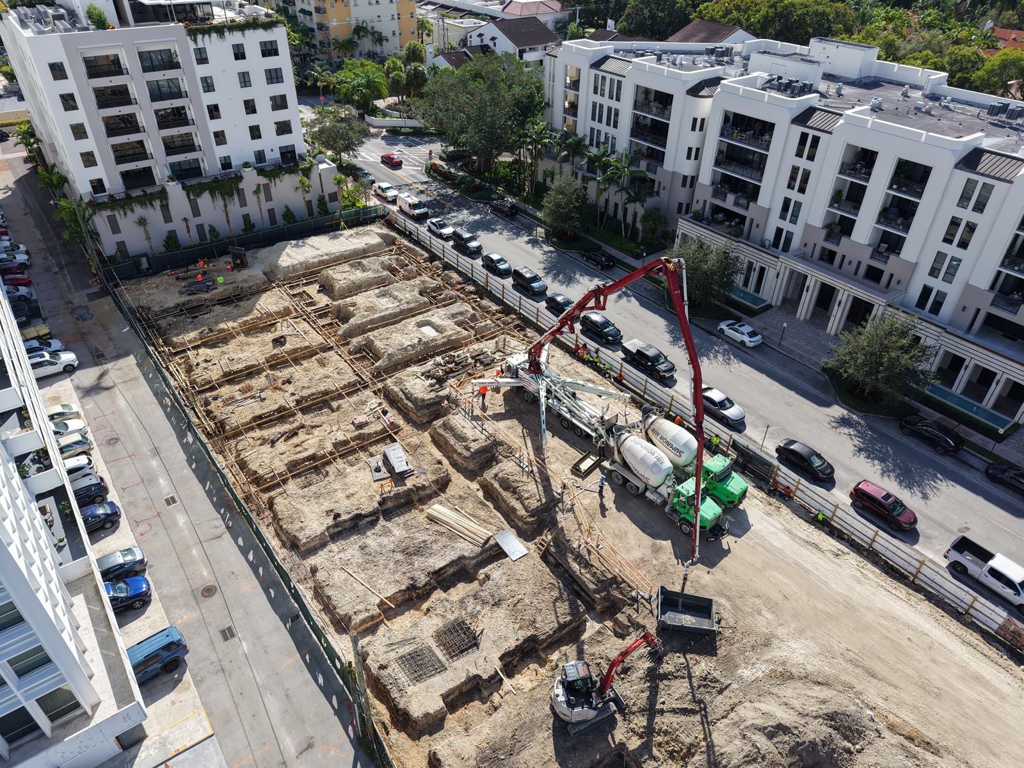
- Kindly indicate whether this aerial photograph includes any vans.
Yes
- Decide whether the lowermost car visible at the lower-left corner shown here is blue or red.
blue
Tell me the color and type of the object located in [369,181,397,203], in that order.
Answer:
white truck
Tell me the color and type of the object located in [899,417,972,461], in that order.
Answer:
black car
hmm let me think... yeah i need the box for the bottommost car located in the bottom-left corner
[124,629,192,689]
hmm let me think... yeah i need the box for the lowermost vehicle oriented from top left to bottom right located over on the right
[946,540,1024,615]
